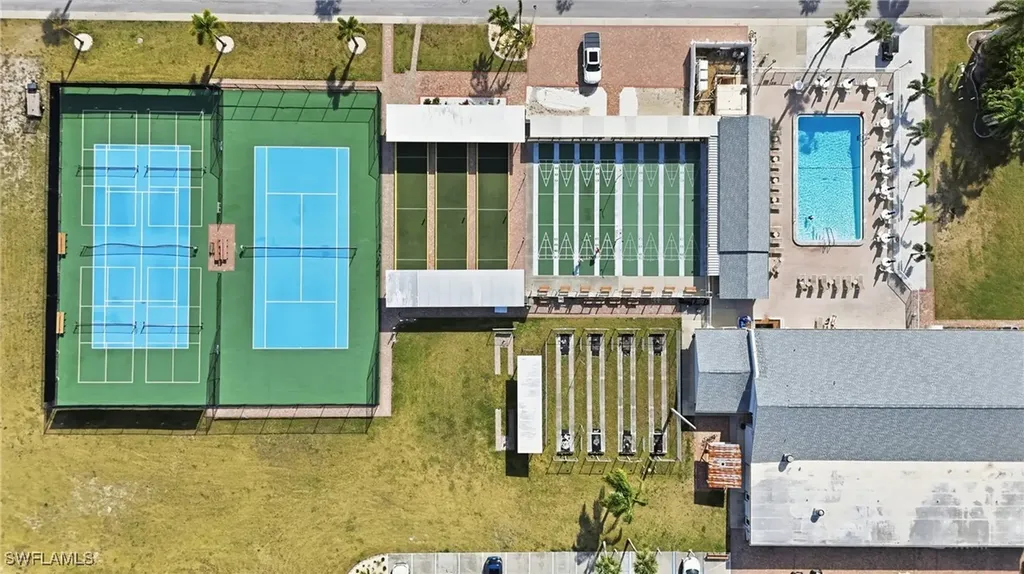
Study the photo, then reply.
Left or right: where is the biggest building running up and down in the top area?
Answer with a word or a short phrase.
right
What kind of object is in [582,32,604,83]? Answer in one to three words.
truck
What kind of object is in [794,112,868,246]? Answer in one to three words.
swimming pool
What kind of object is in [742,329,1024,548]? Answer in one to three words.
building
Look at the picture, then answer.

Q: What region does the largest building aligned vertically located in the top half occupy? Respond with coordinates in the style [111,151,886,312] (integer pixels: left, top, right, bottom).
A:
[716,115,771,299]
